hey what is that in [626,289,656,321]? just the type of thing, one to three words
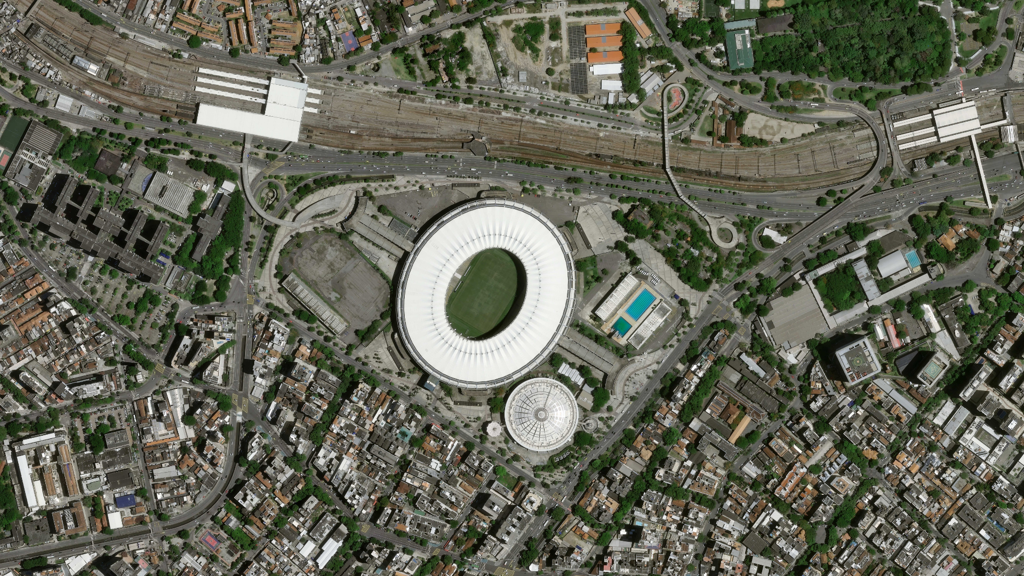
swimming pool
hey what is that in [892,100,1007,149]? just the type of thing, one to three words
train station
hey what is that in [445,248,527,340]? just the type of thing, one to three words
sports field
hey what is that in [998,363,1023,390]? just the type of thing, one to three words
building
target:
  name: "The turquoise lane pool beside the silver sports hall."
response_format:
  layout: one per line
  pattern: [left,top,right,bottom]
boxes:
[905,250,921,268]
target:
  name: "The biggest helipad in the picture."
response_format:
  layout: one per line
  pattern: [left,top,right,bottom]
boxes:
[846,346,873,379]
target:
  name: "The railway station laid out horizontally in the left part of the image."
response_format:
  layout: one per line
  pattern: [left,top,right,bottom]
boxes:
[190,67,326,142]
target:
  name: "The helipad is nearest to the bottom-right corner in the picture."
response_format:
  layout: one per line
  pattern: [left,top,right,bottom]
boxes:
[924,361,942,377]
